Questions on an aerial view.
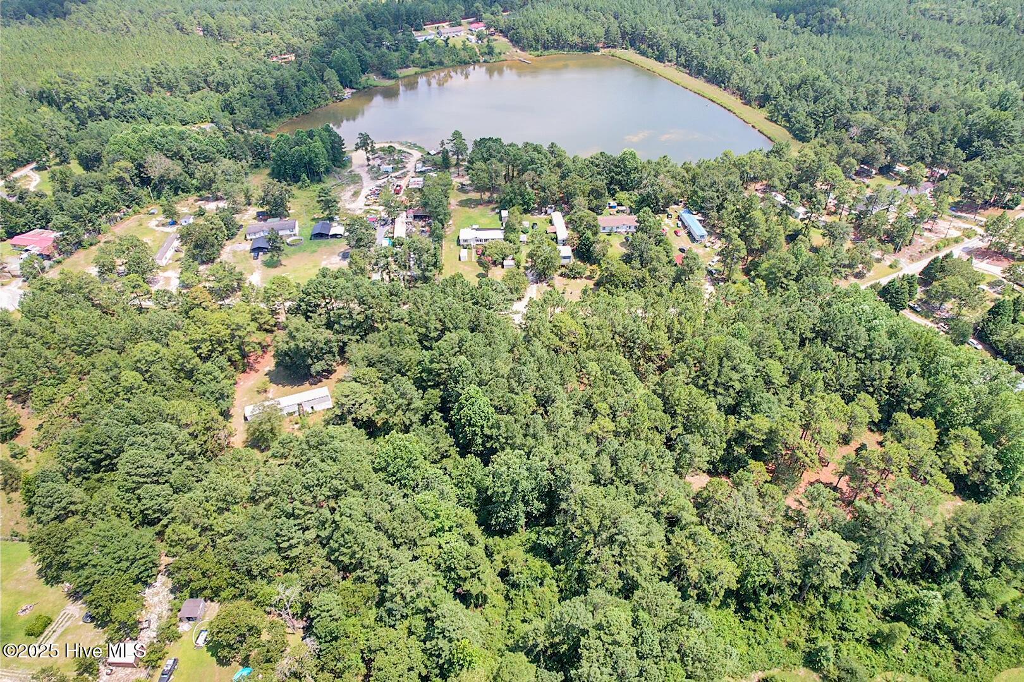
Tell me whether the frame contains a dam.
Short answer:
Yes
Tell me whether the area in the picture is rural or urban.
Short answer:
rural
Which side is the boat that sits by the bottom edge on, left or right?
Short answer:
left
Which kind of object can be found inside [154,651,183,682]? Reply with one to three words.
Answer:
truck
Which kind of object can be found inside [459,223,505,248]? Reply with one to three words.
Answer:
house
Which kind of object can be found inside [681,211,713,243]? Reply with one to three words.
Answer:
house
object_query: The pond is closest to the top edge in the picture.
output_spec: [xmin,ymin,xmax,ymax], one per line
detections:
[274,53,773,174]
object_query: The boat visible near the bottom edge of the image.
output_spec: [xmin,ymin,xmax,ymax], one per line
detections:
[187,620,207,652]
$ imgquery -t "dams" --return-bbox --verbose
[605,45,806,157]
